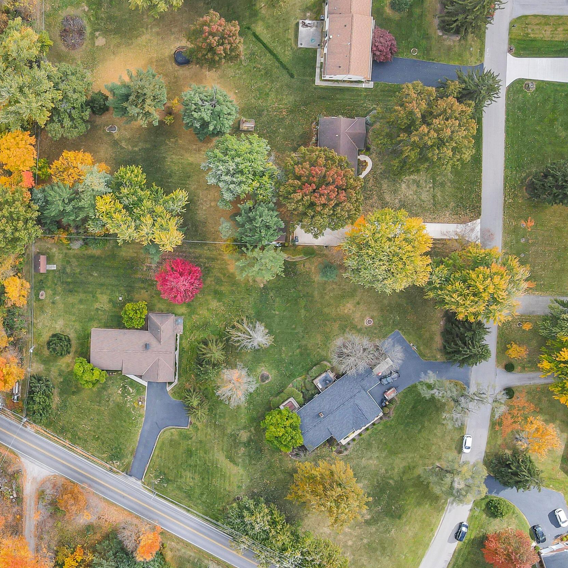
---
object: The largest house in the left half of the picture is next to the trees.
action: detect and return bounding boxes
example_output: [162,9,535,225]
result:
[90,313,176,382]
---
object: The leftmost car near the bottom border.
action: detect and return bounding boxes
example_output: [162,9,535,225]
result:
[455,522,468,542]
